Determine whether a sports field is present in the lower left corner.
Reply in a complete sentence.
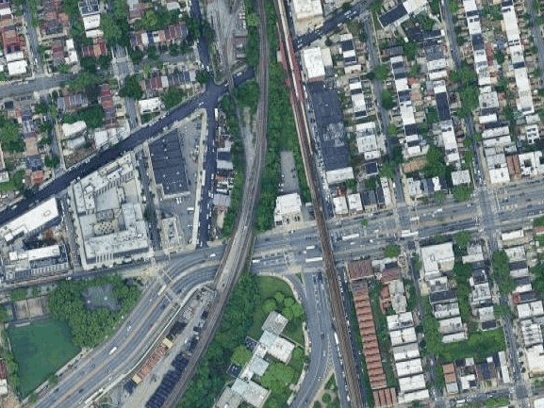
Yes, a sports field is visible in the lower left corner.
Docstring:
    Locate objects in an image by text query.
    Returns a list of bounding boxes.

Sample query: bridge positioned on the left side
[159,217,249,408]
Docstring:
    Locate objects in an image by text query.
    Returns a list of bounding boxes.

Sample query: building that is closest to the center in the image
[275,194,302,224]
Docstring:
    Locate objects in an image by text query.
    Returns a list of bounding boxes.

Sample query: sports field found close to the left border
[8,318,83,399]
